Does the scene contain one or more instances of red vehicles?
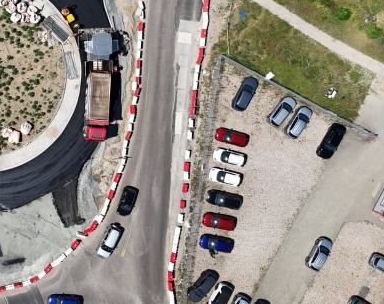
Yes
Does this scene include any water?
No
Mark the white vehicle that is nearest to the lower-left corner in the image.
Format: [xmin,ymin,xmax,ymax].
[98,222,123,256]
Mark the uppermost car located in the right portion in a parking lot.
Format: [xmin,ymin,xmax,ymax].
[231,75,256,110]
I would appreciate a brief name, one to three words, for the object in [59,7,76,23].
work vehicle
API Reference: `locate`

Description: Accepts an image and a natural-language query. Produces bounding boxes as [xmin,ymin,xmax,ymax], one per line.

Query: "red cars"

[201,211,236,230]
[213,127,249,146]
